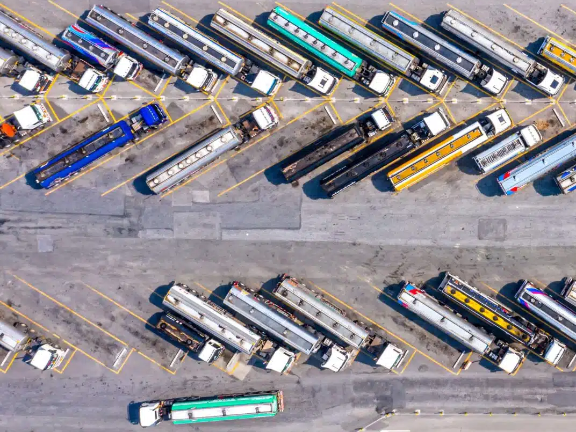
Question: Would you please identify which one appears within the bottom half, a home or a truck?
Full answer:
There is a truck within the bottom half.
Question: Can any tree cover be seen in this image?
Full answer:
No, there is no tree cover in the image.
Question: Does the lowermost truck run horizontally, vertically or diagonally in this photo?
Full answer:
The lowermost truck is oriented horizontally.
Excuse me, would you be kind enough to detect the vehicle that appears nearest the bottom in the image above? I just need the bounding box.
[140,388,288,426]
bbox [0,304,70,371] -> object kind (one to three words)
truck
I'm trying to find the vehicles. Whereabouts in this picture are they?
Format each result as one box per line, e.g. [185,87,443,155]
[384,10,510,97]
[88,5,220,90]
[147,103,284,192]
[472,119,544,173]
[442,9,566,97]
[63,25,148,82]
[165,279,302,374]
[140,388,288,426]
[515,277,576,339]
[269,6,398,97]
[388,105,517,189]
[0,3,114,91]
[399,276,524,374]
[441,271,568,364]
[0,41,59,92]
[276,272,407,370]
[549,162,576,193]
[320,6,450,92]
[213,10,344,95]
[323,107,452,197]
[283,104,399,182]
[150,8,285,97]
[158,306,230,362]
[0,101,57,145]
[0,304,70,371]
[35,101,173,187]
[495,132,576,193]
[226,278,357,373]
[537,37,576,75]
